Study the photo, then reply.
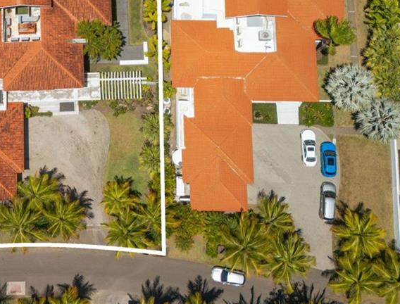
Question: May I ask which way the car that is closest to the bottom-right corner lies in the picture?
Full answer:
The car that is closest to the bottom-right corner runs from top to bottom in the image.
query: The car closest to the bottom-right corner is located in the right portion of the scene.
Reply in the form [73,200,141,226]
[318,182,338,221]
